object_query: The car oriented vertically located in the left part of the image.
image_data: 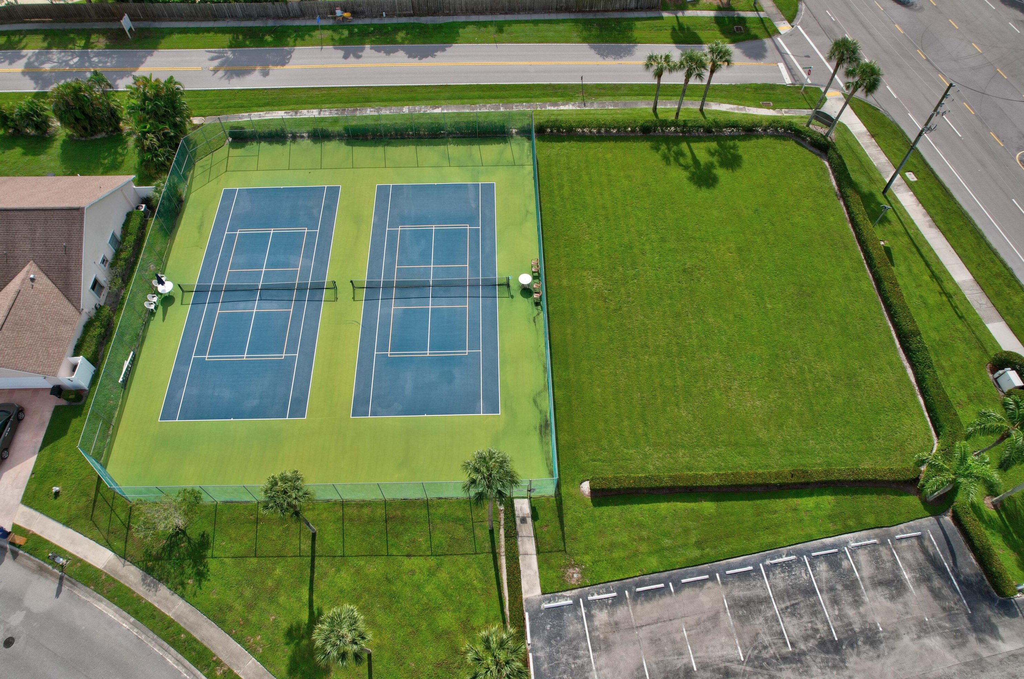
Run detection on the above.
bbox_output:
[0,403,21,455]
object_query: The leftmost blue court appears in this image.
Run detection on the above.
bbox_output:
[157,185,341,422]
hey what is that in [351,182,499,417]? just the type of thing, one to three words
tennis court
